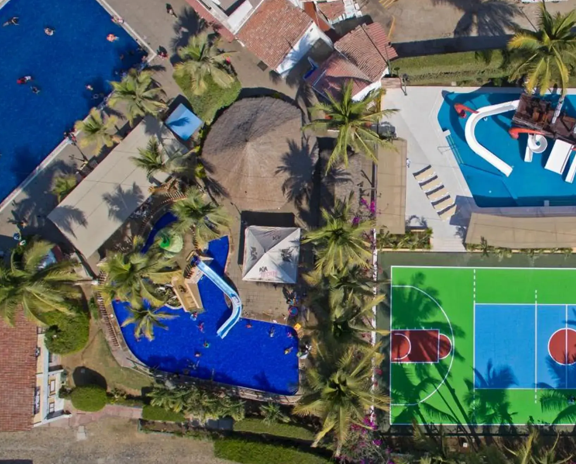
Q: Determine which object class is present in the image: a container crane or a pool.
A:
pool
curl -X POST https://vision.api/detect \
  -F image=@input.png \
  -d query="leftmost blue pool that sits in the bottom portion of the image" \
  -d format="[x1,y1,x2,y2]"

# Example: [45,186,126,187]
[109,208,301,399]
